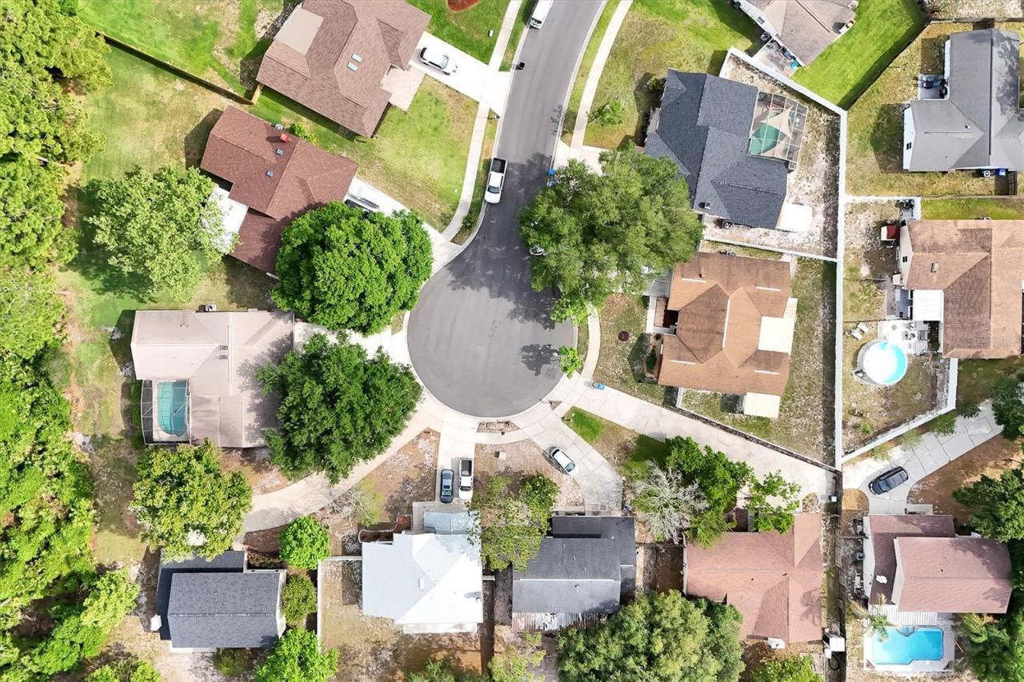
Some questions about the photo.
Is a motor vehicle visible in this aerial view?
Yes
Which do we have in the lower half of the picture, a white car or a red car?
white car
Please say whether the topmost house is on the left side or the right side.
right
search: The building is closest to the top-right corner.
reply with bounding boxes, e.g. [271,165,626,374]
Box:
[902,29,1024,172]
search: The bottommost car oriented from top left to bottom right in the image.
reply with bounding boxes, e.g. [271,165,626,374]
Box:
[543,444,577,478]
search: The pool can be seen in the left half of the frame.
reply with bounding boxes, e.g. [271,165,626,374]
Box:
[153,379,190,441]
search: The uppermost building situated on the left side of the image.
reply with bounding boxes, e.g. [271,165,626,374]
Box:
[256,0,432,137]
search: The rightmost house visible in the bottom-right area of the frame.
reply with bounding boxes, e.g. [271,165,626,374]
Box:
[862,514,1012,625]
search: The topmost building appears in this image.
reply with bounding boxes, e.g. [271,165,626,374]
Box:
[746,0,858,68]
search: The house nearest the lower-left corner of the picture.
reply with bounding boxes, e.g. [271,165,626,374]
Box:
[146,549,289,652]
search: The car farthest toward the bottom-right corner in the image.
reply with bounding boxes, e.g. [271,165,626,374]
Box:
[872,467,911,495]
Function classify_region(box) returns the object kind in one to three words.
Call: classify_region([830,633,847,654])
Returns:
shed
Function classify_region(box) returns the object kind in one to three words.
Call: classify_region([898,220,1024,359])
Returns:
house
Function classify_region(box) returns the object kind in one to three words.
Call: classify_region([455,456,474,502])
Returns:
vehicle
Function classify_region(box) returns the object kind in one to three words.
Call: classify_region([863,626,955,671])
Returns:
swimming pool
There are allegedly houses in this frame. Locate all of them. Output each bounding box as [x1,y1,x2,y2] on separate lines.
[200,105,359,275]
[146,549,289,652]
[898,220,1024,359]
[131,309,296,447]
[862,514,1012,625]
[685,511,824,642]
[657,251,798,418]
[357,512,482,633]
[256,0,432,137]
[640,68,787,229]
[746,0,858,68]
[902,29,1024,172]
